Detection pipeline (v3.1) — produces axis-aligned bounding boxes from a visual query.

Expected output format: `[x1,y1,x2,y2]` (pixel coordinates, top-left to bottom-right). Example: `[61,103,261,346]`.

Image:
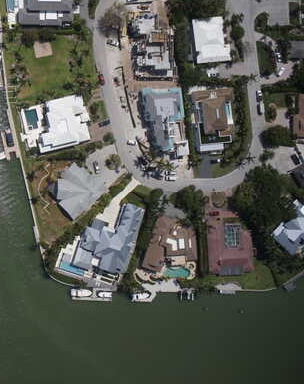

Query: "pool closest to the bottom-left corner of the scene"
[58,263,84,276]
